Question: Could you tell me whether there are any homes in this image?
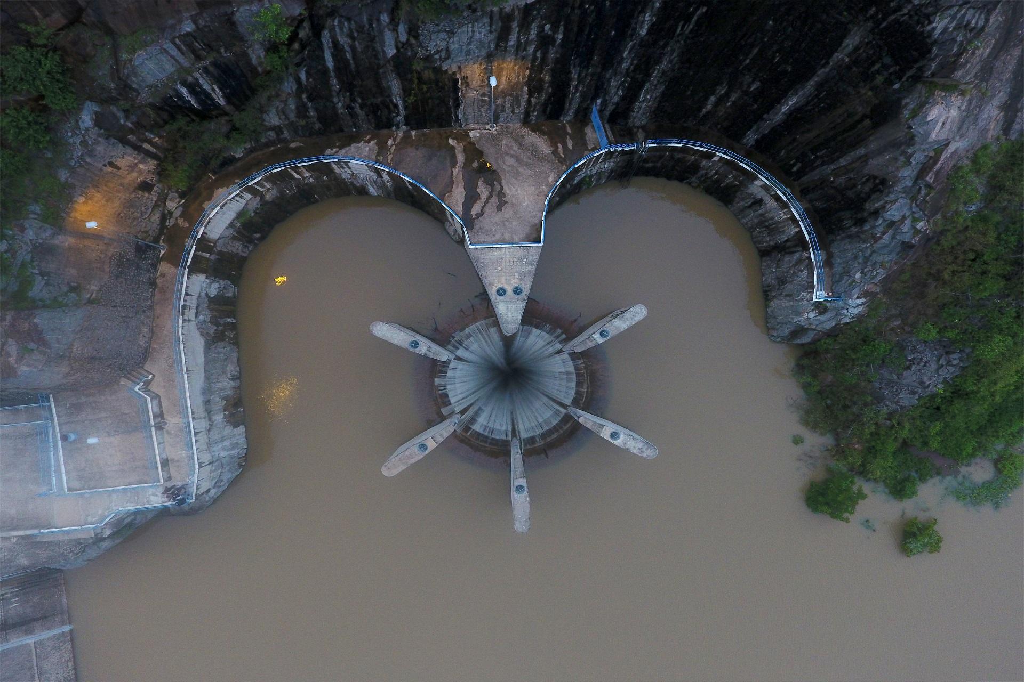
No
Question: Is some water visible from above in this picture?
Yes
